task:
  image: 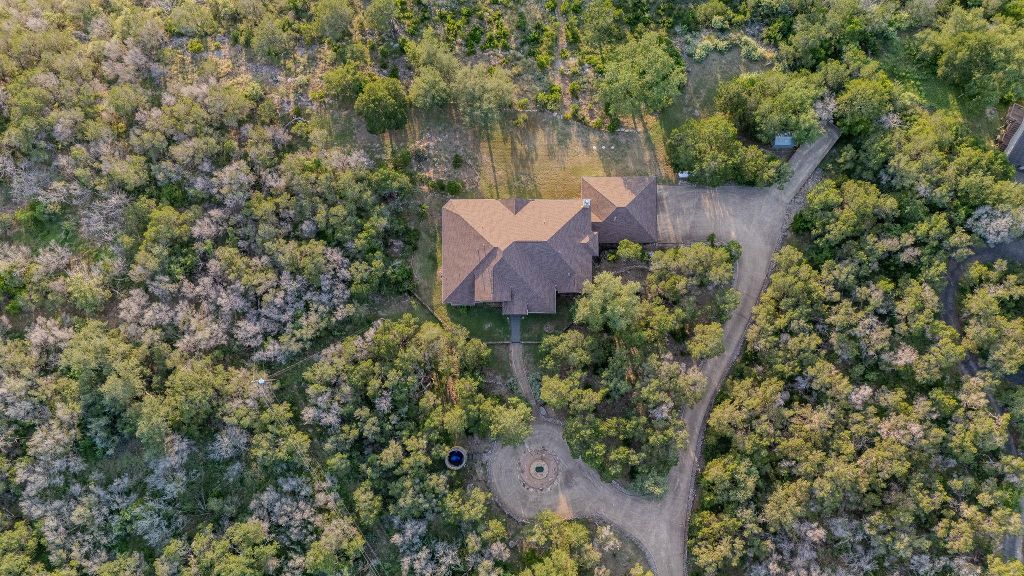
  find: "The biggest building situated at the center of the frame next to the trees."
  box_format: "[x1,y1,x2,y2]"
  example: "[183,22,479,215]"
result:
[442,198,598,315]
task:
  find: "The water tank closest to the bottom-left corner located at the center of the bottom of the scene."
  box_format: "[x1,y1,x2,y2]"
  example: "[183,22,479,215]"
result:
[444,445,468,470]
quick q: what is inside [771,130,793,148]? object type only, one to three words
shed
